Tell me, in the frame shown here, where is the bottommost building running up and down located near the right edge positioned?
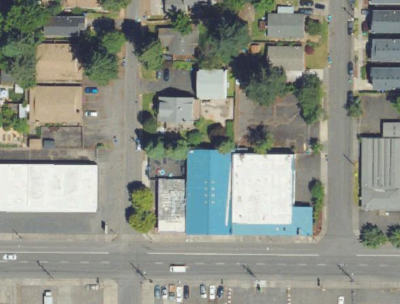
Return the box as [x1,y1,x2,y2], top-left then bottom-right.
[361,121,400,211]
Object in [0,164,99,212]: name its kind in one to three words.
building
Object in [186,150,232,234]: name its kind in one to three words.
building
